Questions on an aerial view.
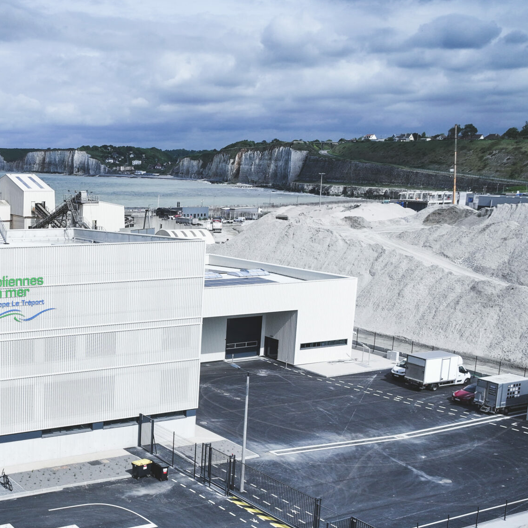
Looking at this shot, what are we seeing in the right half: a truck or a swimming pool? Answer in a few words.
truck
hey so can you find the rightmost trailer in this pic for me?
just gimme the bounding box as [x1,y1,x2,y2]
[471,370,528,412]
